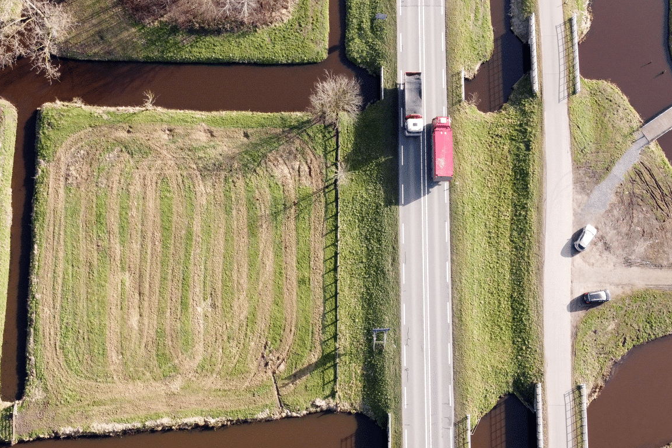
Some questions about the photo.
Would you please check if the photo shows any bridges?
Yes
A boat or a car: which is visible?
car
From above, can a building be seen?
No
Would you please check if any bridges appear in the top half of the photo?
Yes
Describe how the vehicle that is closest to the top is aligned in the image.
vertically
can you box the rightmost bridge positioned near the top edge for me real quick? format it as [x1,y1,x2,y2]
[524,11,582,103]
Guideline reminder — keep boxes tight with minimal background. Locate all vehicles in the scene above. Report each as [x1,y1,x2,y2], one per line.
[404,71,424,137]
[574,224,597,251]
[432,118,454,182]
[581,289,612,305]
